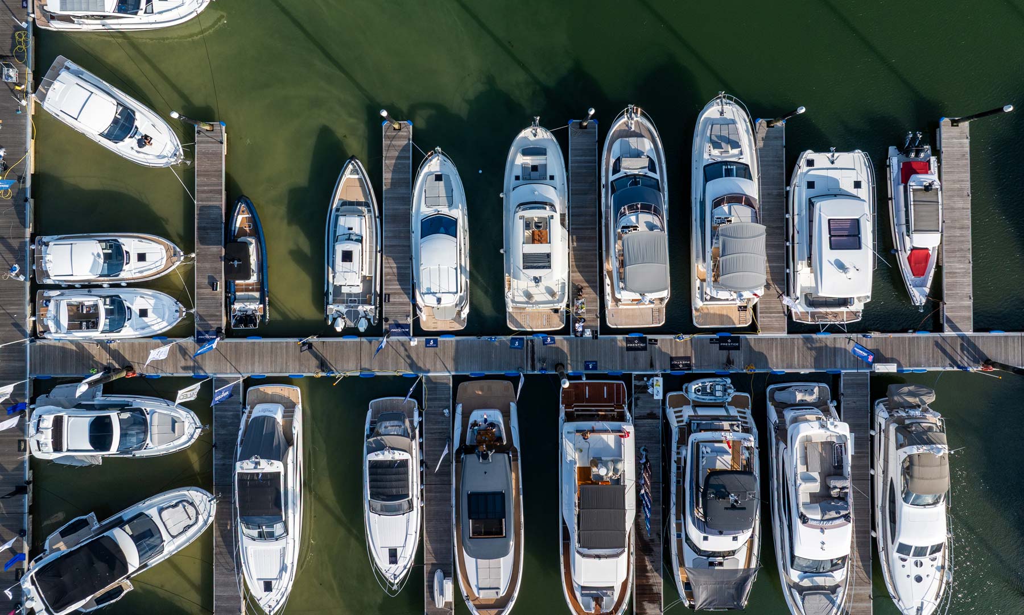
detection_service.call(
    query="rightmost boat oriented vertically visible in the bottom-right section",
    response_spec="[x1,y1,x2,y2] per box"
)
[870,397,965,615]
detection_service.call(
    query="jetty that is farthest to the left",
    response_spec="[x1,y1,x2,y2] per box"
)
[0,0,37,615]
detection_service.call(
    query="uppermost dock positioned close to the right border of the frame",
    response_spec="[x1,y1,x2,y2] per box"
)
[935,116,973,333]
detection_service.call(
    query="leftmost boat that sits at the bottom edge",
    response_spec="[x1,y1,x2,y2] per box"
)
[14,490,227,615]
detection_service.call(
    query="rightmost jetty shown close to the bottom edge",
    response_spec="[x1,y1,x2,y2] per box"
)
[839,371,872,615]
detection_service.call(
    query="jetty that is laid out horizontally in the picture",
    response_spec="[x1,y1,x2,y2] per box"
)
[32,329,1024,380]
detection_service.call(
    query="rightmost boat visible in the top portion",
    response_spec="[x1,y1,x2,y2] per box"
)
[883,130,943,311]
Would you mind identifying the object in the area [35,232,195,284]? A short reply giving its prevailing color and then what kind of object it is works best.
white boat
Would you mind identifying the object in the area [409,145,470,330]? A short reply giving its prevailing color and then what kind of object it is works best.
white boat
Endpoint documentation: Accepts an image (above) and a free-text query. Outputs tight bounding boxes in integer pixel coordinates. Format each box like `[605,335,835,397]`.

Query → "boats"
[324,156,382,331]
[503,115,568,330]
[35,0,214,32]
[764,382,856,615]
[364,397,422,598]
[453,380,523,615]
[683,377,734,404]
[234,384,306,615]
[883,130,943,311]
[600,102,669,328]
[14,490,227,615]
[689,91,766,328]
[36,56,191,167]
[35,232,195,284]
[664,391,769,612]
[772,384,818,402]
[870,397,965,615]
[37,287,198,340]
[558,379,635,615]
[785,147,891,333]
[225,194,270,328]
[18,383,211,469]
[409,145,470,330]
